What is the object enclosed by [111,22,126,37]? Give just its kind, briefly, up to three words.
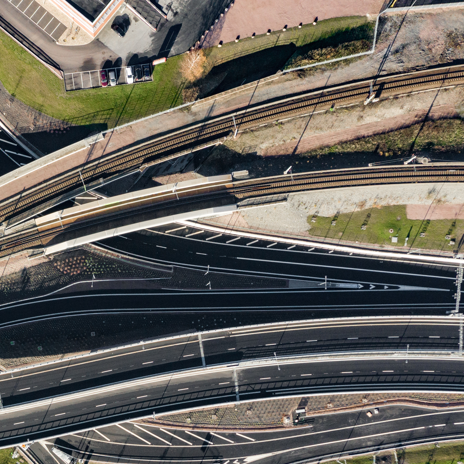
car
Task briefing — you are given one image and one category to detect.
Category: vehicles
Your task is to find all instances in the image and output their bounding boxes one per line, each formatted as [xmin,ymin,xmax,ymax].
[126,66,133,82]
[134,64,142,80]
[143,64,151,79]
[108,70,116,86]
[111,22,126,37]
[101,69,108,86]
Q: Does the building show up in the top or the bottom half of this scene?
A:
top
